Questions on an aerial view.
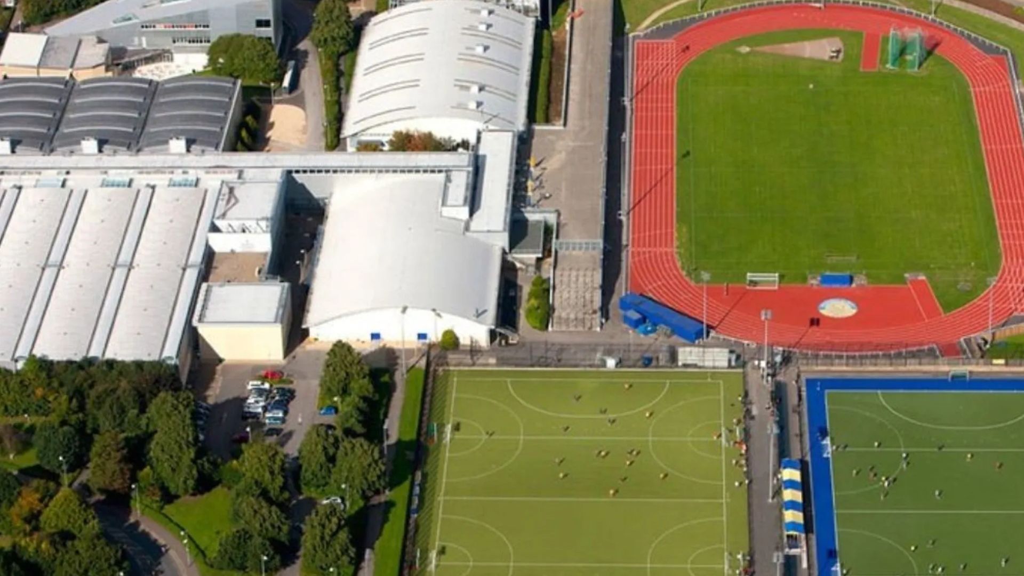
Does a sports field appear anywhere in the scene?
Yes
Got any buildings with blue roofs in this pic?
Yes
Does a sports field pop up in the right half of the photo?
Yes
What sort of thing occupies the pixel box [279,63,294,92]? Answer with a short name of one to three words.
vehicle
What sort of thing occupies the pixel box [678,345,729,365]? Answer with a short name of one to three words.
building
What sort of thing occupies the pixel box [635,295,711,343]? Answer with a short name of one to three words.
building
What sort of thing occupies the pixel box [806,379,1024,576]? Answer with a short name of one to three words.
sports field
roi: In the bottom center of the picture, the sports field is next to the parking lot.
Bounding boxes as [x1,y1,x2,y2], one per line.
[405,372,750,576]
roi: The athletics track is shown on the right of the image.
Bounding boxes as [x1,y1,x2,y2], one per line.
[618,0,1024,357]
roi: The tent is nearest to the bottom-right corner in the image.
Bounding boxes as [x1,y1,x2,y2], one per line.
[781,458,805,544]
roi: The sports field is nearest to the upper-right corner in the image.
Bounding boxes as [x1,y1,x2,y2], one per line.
[676,31,1002,312]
